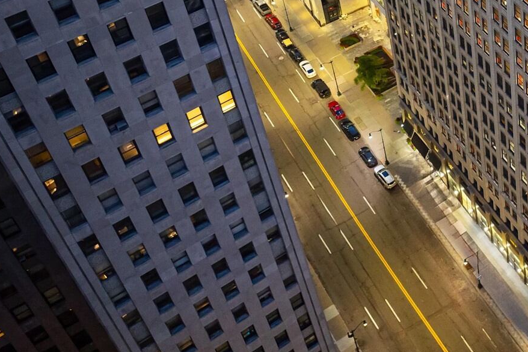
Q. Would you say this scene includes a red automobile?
Yes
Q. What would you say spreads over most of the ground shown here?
buildings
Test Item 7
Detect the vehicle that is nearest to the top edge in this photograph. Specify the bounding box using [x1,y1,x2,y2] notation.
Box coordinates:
[253,0,271,15]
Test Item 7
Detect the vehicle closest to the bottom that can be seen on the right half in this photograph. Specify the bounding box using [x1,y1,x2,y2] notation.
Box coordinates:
[373,167,394,189]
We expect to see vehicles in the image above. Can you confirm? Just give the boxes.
[266,15,282,29]
[327,102,345,121]
[373,167,394,189]
[341,122,360,141]
[359,148,378,168]
[277,29,292,45]
[253,0,271,15]
[312,79,330,97]
[287,46,304,62]
[300,62,317,80]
